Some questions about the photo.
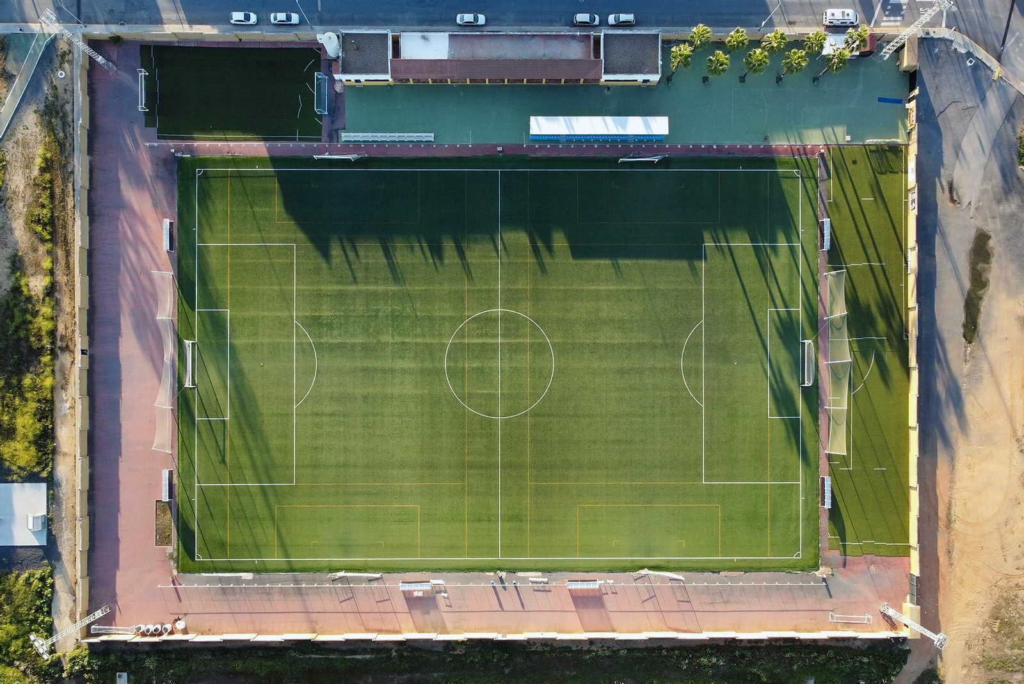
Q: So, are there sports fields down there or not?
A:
Yes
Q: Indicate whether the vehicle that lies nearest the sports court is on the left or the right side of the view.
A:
right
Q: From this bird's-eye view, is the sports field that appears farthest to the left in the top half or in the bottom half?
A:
top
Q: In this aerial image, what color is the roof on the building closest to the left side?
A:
white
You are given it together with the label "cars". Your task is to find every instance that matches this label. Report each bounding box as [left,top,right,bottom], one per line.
[231,12,258,26]
[456,13,485,27]
[270,12,300,26]
[608,13,635,28]
[574,13,599,27]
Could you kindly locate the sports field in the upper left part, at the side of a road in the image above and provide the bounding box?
[140,45,322,140]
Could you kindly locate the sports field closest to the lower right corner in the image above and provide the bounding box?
[828,145,910,556]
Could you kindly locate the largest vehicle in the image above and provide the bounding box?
[821,8,858,28]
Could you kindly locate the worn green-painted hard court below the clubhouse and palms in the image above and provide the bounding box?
[339,40,909,145]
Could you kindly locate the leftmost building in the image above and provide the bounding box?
[0,483,50,546]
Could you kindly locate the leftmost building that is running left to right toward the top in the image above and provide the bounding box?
[339,30,662,89]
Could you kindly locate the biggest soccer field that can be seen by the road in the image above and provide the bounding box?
[178,157,820,573]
